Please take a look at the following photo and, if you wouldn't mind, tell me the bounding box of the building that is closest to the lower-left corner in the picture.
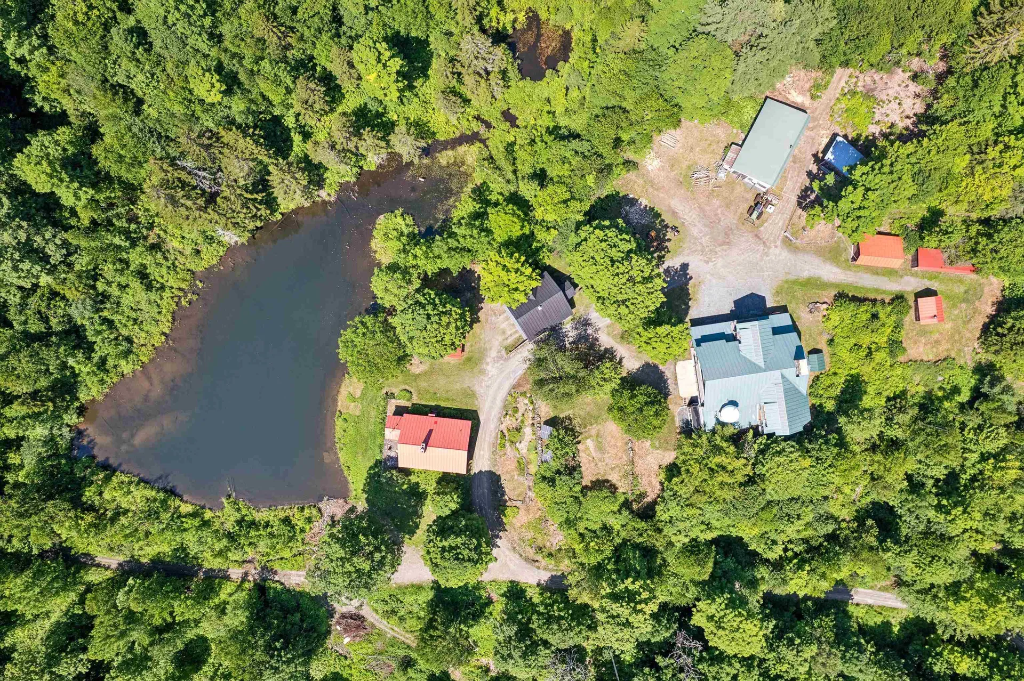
[385,414,472,474]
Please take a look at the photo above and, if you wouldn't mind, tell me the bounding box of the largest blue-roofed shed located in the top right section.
[817,135,866,181]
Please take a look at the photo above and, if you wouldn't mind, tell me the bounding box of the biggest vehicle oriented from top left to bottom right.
[645,225,667,251]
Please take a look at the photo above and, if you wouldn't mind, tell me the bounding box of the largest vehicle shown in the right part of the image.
[739,188,774,233]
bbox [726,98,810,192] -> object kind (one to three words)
building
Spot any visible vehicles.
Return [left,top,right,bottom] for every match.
[739,188,774,233]
[645,225,667,251]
